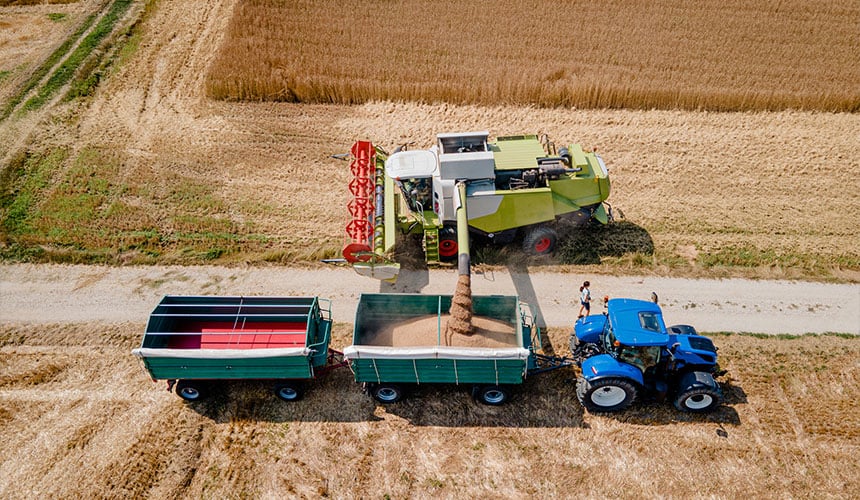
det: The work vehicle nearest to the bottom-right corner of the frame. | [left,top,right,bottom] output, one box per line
[560,294,723,415]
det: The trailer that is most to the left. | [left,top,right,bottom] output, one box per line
[134,294,350,403]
